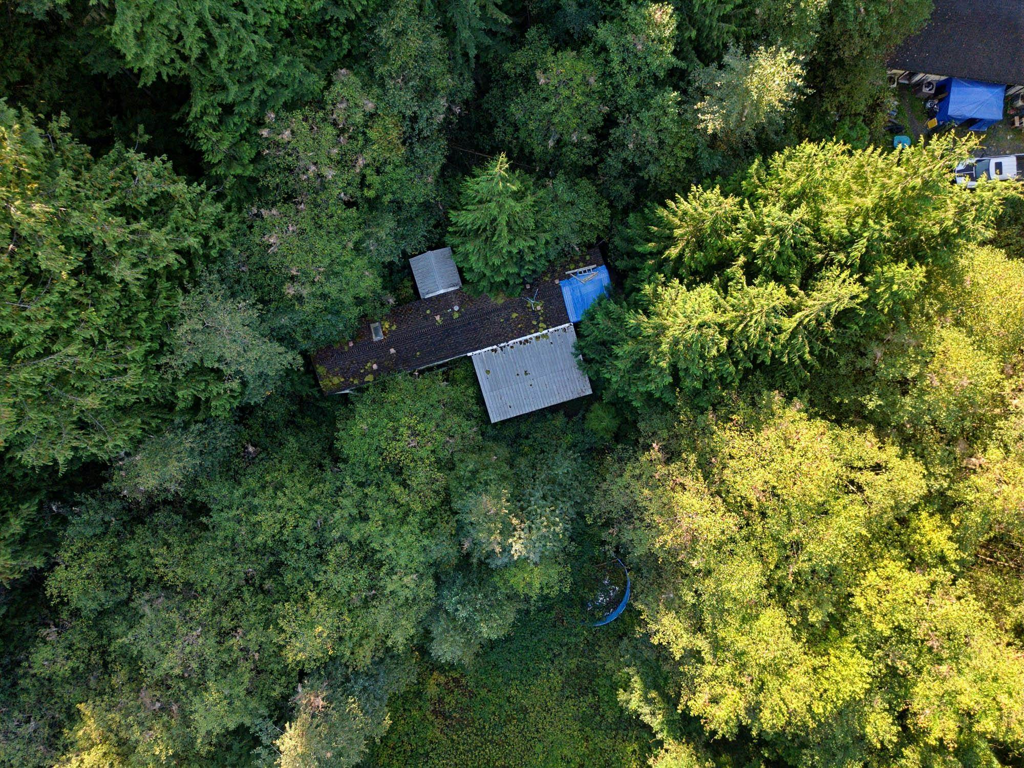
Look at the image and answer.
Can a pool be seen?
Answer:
Yes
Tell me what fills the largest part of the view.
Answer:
trees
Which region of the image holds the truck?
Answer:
top right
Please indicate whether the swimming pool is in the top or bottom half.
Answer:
bottom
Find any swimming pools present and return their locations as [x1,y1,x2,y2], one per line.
[560,551,631,627]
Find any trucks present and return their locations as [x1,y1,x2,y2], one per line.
[950,155,1024,191]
